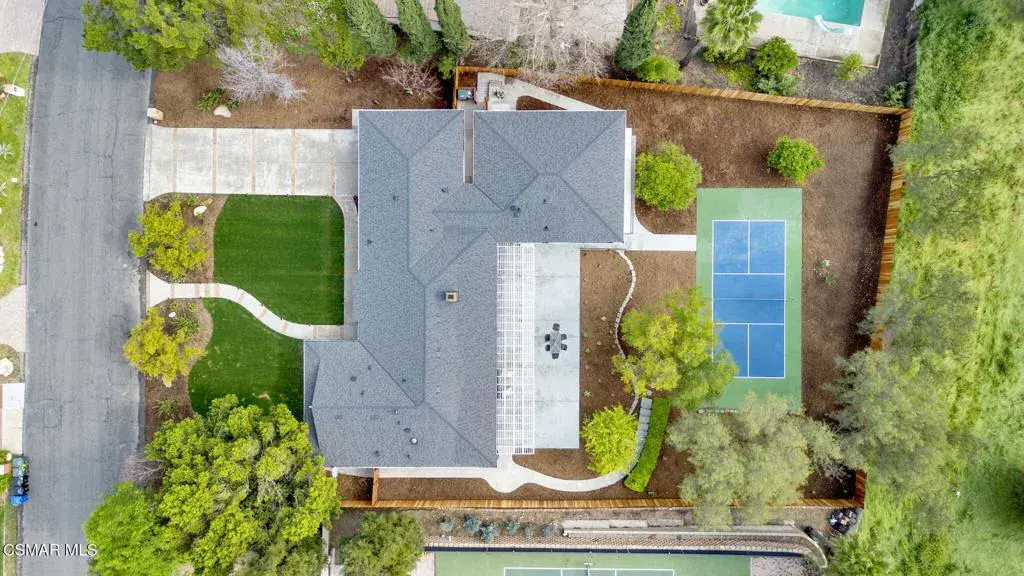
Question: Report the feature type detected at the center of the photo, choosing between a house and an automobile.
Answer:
house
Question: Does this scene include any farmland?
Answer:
No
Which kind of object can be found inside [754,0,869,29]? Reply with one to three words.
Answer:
swimming pool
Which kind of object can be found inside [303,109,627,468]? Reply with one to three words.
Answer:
house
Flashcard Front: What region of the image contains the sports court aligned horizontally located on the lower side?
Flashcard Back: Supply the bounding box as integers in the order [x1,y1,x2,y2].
[434,549,750,576]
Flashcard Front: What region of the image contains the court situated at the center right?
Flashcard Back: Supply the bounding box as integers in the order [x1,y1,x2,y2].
[697,188,802,411]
